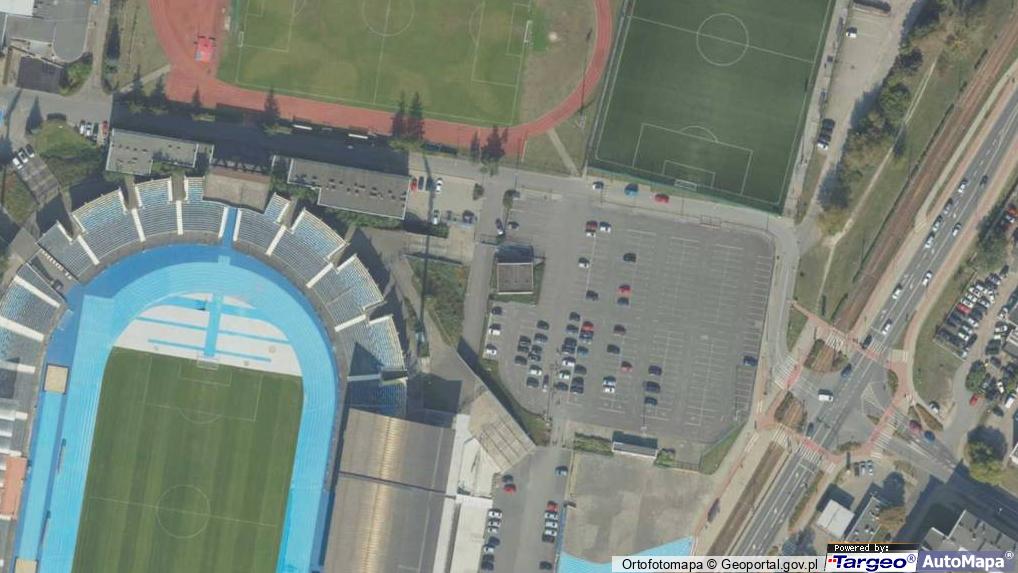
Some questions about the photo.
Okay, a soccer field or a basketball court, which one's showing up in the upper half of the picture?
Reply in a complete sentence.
Visible in the upper half of the picture is a soccer field.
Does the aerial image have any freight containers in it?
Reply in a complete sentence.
No, there's no freight container here.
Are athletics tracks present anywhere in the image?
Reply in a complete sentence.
Yes, the image includes an athletics track.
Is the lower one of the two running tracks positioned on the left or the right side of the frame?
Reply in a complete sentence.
It is on the left.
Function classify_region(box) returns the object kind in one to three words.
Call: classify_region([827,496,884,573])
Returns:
building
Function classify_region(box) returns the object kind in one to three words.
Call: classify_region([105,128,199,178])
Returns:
building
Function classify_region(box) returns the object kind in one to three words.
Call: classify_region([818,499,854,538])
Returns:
shed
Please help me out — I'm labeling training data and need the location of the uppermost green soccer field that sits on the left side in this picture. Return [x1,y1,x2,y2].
[235,0,532,122]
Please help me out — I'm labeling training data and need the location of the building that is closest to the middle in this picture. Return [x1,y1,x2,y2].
[497,262,534,295]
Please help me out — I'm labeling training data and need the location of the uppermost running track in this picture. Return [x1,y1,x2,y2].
[147,0,613,157]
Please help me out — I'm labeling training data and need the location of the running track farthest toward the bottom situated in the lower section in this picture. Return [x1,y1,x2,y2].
[10,243,338,573]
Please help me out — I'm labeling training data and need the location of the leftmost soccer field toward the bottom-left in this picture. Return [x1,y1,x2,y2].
[70,346,304,573]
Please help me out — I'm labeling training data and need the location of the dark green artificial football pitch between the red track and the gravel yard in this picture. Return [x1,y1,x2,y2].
[580,0,838,217]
